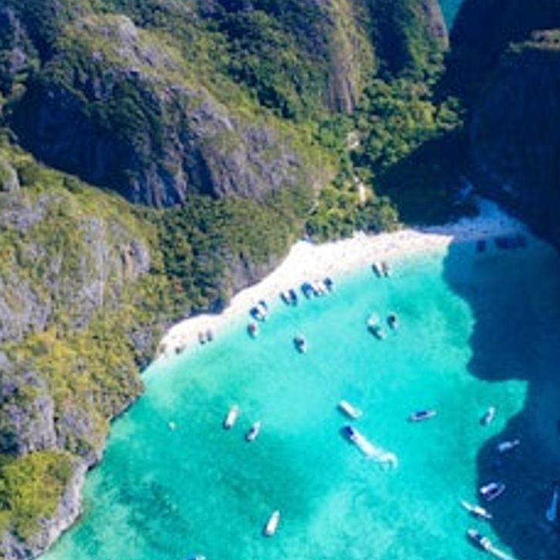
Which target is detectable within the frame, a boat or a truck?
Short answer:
boat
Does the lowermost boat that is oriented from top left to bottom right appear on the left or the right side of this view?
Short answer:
right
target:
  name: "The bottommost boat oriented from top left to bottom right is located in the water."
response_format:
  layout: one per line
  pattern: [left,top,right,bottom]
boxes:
[468,526,492,548]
